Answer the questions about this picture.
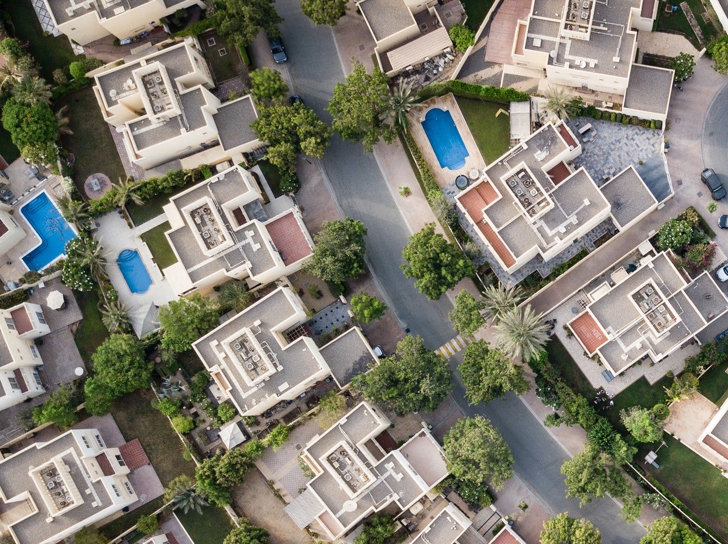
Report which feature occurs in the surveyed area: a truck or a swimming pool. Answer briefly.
swimming pool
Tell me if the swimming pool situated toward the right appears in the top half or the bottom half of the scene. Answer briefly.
top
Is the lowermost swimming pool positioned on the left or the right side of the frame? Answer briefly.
left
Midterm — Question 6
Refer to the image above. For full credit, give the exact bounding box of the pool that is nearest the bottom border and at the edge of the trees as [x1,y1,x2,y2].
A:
[111,243,158,300]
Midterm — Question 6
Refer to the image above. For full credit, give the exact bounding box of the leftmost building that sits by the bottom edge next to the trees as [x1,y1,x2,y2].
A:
[0,429,139,544]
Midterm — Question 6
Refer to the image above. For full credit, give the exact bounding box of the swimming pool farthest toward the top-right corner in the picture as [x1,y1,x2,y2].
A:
[417,104,472,174]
